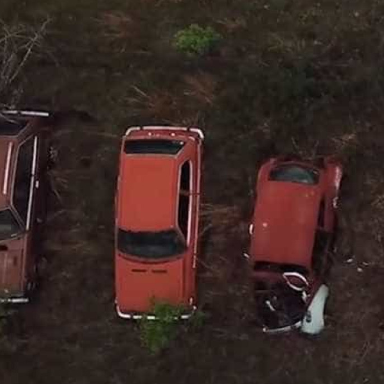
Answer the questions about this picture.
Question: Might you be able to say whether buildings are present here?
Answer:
No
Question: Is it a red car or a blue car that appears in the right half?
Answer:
red car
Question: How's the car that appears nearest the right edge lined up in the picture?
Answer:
from top to bottom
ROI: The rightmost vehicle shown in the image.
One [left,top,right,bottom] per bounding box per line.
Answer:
[246,153,339,345]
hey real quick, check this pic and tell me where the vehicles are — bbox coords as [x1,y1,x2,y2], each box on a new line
[113,122,207,322]
[0,109,54,308]
[246,153,339,345]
